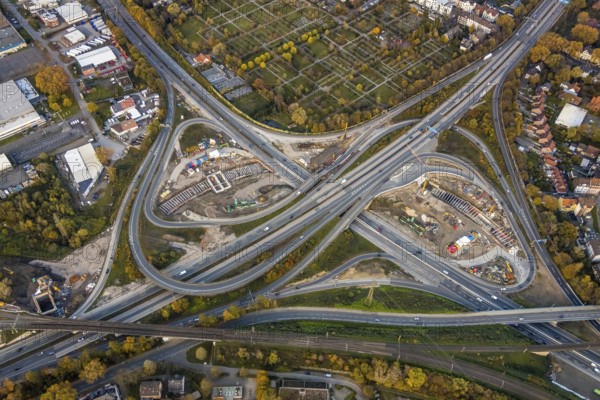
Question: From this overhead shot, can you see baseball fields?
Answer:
No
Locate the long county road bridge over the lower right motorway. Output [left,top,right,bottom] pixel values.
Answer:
[478,303,600,327]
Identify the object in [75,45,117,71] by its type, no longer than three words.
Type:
building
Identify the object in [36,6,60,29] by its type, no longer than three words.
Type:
building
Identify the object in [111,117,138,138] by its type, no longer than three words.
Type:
house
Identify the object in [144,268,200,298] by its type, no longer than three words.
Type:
bridge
